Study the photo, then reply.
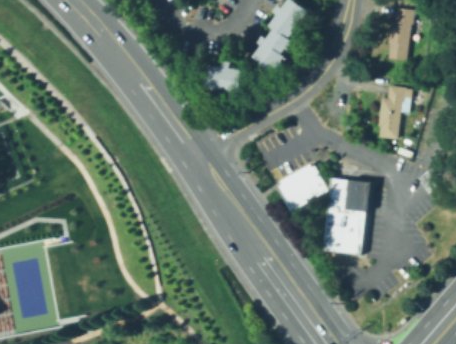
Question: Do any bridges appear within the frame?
No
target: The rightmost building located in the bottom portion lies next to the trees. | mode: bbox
[324,178,370,255]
